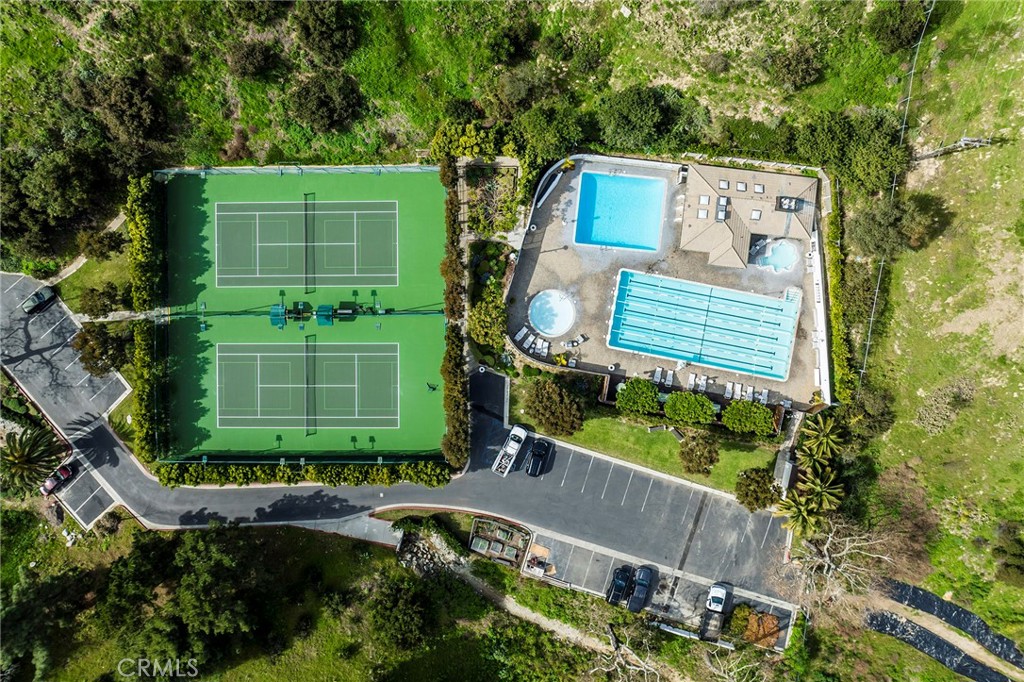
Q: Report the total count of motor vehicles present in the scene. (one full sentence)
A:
The photo contains 7 motor vehicles.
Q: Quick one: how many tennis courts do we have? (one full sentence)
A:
The number of tennis courts here is 2.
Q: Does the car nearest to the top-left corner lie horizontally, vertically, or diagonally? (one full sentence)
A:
The car nearest to the top-left corner is oriented diagonally.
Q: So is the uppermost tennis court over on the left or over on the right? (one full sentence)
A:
You can find the uppermost tennis court on the left side of the picture.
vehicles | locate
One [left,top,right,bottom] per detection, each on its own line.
[35,465,71,498]
[494,428,525,475]
[627,567,655,615]
[702,584,728,646]
[15,284,54,316]
[607,565,633,609]
[526,439,549,478]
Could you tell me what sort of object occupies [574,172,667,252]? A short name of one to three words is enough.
swimming pool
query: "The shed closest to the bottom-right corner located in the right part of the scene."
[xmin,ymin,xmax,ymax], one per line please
[773,459,793,496]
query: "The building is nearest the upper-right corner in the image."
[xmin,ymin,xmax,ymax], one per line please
[677,164,818,269]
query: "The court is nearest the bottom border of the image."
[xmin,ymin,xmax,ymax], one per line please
[167,317,446,461]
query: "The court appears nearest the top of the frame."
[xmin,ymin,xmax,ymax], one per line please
[167,169,446,317]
